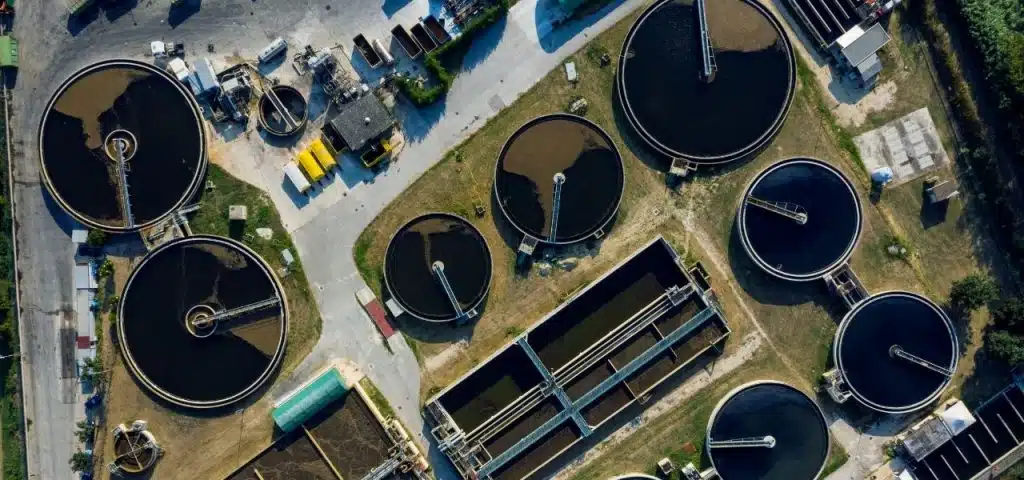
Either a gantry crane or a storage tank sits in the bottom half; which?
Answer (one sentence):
The one visible in the bottom half is a storage tank.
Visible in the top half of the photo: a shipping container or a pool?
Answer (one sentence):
The feature located in the top half of the photo is a shipping container.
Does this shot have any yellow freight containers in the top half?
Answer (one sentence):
Yes, looking in the top half, one can make out a yellow freight container.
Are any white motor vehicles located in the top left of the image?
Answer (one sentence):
Yes, the scene does show a white motor vehicle in the top left of the image.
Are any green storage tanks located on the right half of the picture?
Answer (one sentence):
No, on the right half of the picture there is no green storage tank.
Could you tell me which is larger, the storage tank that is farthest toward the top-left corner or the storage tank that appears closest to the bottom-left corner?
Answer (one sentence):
Compared with the storage tank that appears closest to the bottom-left corner, the storage tank that is farthest toward the top-left corner is the larger one.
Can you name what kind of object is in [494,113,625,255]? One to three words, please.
storage tank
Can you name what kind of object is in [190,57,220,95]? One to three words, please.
building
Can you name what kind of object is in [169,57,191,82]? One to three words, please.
vehicle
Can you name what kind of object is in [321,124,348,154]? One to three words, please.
shipping container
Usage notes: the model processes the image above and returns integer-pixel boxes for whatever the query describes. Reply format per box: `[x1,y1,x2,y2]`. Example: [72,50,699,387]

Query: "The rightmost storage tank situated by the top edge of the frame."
[616,0,797,177]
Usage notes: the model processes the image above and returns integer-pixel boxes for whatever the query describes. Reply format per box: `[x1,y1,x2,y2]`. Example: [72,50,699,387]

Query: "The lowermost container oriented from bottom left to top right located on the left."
[360,141,390,168]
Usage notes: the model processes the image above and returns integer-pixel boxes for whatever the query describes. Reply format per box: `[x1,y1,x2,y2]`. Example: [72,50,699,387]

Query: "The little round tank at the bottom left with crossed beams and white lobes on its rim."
[104,419,167,477]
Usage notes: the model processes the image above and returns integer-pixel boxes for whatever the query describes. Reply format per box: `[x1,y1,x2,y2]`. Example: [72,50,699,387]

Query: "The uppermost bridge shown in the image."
[696,0,716,75]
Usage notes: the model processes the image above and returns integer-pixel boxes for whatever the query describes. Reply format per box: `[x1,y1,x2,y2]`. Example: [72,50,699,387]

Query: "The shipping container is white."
[284,160,313,196]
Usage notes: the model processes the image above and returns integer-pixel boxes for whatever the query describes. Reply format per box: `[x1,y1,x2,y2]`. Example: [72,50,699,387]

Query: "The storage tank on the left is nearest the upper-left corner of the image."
[37,60,211,231]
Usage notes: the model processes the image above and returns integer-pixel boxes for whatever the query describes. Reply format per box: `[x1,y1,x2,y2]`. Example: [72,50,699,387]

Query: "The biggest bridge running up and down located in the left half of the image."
[116,140,134,227]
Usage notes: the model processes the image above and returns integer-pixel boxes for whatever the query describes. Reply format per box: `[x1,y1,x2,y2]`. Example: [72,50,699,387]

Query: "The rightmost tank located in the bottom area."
[818,289,959,415]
